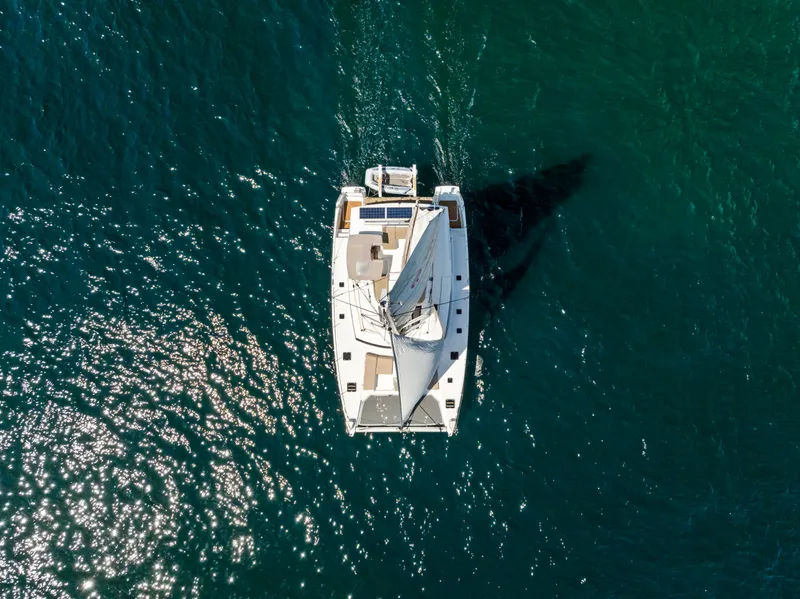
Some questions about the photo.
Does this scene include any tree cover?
No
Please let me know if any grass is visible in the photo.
No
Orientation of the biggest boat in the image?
vertically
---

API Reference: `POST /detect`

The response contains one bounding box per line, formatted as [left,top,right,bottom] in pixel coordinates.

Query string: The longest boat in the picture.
[330,165,470,434]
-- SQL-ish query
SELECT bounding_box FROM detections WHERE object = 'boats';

[330,165,470,434]
[365,166,413,196]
